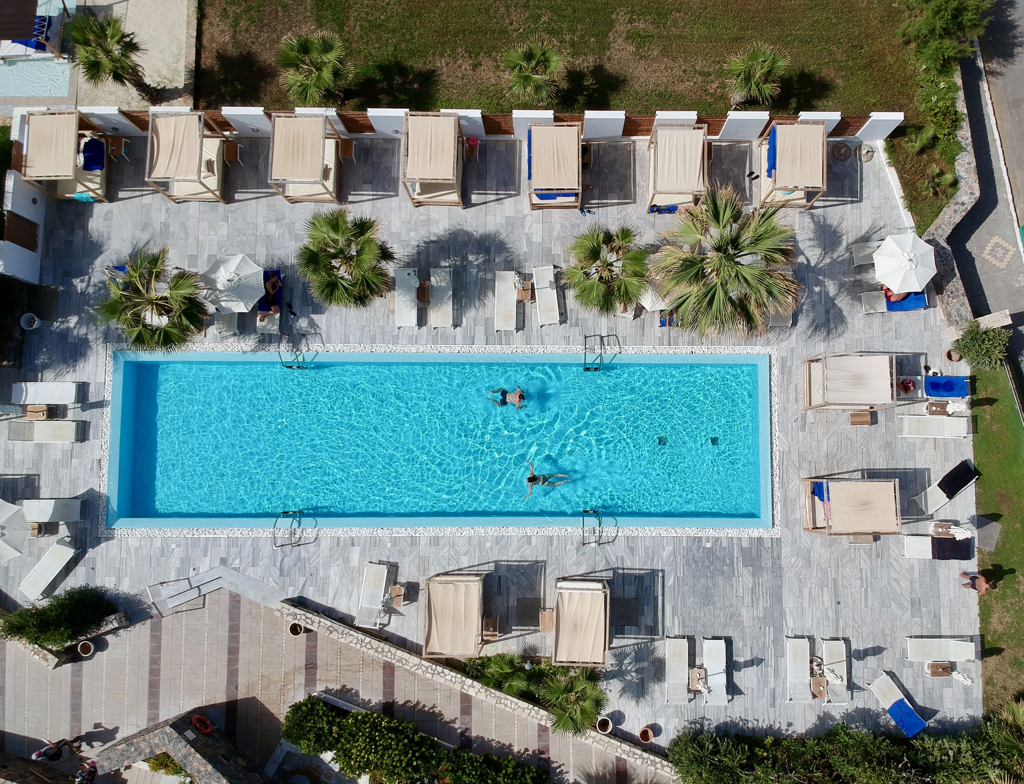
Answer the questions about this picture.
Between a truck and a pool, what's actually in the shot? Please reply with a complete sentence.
Of the two, only a pool appears.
